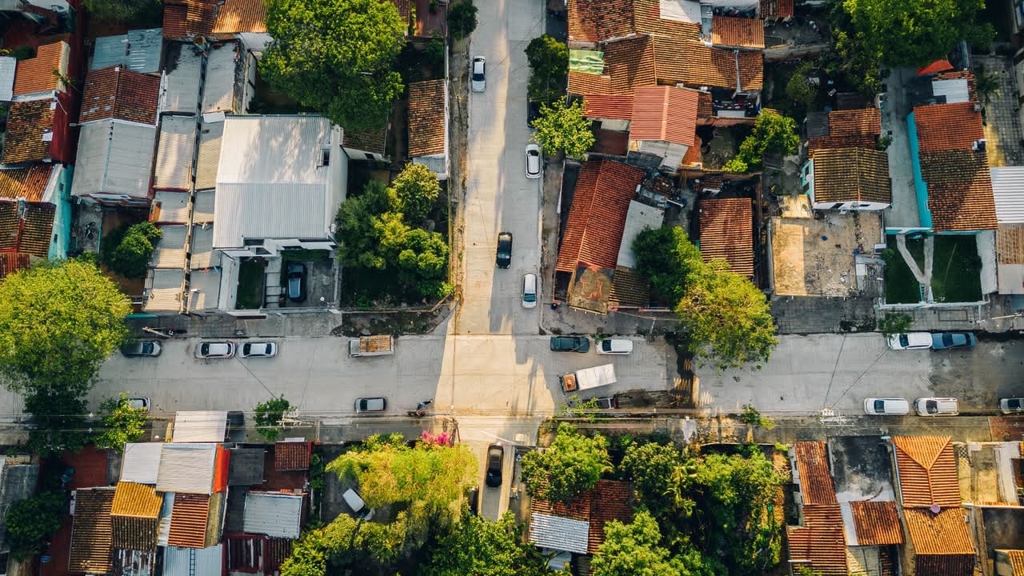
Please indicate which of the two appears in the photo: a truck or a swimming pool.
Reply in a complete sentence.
There is a truck in the scene.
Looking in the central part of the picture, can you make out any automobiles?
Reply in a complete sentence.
Yes, an automobile shows up in the central part of the picture.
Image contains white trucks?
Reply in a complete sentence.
Yes, I can see a white truck in this picture.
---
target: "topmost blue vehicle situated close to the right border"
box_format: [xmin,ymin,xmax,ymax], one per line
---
[931,331,975,350]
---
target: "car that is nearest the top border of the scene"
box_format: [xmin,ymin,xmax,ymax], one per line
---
[470,56,487,93]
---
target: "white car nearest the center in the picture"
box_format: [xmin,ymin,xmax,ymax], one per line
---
[521,273,539,308]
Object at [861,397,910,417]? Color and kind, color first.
white vehicle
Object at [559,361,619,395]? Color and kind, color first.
white truck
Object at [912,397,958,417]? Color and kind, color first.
white car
